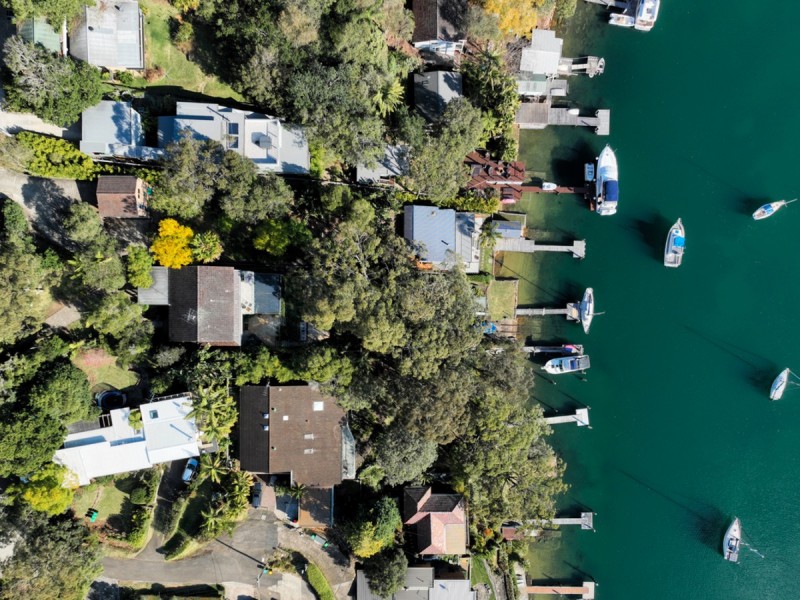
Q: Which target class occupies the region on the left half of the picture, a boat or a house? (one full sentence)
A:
The one visible on the left half of the picture is a house.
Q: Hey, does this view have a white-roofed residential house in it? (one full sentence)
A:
Yes, I can see a white-roofed residential house in this picture.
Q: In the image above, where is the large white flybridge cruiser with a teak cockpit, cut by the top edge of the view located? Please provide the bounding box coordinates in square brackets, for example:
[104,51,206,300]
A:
[634,0,663,35]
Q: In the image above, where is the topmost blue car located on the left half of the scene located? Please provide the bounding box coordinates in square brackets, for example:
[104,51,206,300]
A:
[183,458,199,482]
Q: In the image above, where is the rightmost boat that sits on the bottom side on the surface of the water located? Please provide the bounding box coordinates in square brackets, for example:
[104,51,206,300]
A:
[767,370,800,401]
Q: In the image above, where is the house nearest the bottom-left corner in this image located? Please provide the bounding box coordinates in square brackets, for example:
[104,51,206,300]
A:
[53,389,209,487]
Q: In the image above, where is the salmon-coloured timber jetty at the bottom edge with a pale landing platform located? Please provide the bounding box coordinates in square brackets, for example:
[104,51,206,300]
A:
[526,577,598,600]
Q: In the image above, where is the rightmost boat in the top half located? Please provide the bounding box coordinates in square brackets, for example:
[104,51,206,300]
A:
[749,202,798,220]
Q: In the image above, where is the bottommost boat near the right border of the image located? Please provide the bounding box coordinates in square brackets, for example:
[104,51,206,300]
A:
[722,518,762,562]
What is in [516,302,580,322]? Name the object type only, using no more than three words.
pier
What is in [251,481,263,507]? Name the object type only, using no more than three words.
vehicle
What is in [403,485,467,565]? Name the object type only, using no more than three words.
house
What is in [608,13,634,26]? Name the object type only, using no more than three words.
boat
